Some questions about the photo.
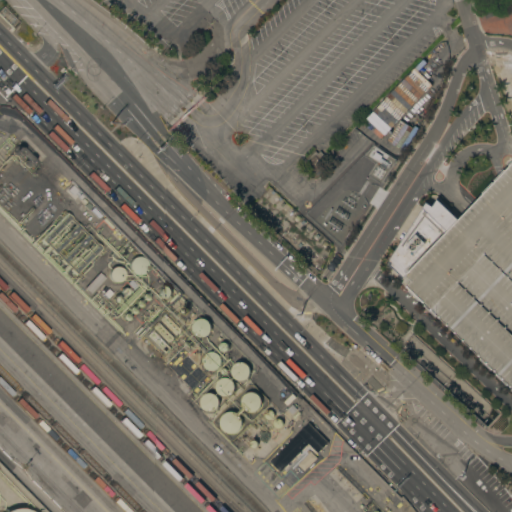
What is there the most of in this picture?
paved ground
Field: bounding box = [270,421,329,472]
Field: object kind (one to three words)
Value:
building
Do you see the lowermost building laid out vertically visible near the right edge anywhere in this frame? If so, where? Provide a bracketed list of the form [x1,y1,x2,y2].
[402,160,512,390]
